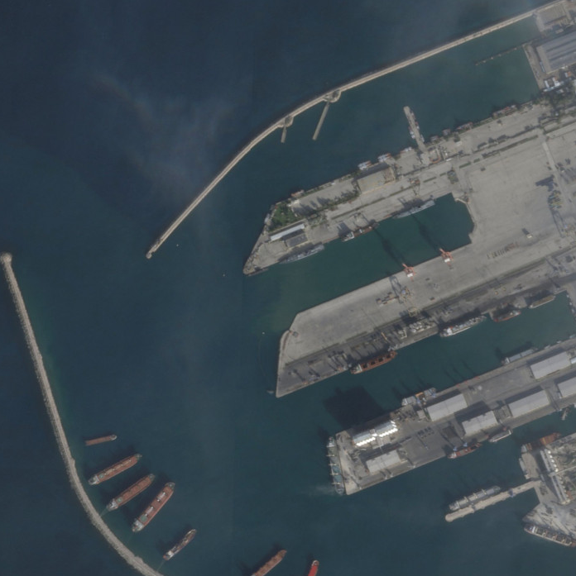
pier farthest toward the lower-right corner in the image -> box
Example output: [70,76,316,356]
[445,484,535,521]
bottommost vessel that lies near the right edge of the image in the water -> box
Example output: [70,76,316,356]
[522,524,576,548]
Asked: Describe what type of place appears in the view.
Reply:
port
